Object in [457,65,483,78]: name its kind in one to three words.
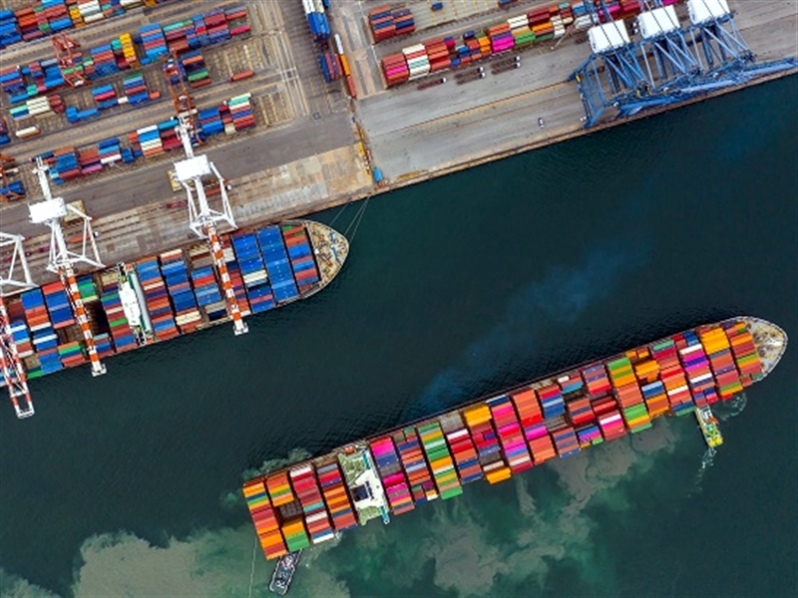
vehicle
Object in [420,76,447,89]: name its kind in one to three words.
vehicle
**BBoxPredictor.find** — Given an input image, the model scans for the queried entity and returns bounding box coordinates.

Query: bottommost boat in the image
[273,553,298,598]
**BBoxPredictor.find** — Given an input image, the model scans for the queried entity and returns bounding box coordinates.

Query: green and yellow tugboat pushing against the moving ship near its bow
[701,407,725,450]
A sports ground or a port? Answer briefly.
port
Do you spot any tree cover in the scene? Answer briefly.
No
